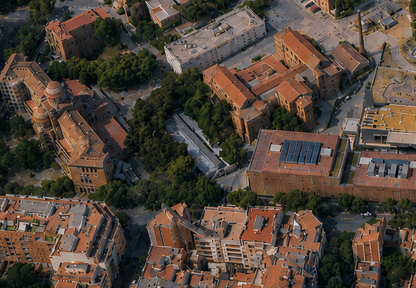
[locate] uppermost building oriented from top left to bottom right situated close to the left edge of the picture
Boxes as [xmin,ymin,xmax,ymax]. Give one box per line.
[0,50,114,195]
